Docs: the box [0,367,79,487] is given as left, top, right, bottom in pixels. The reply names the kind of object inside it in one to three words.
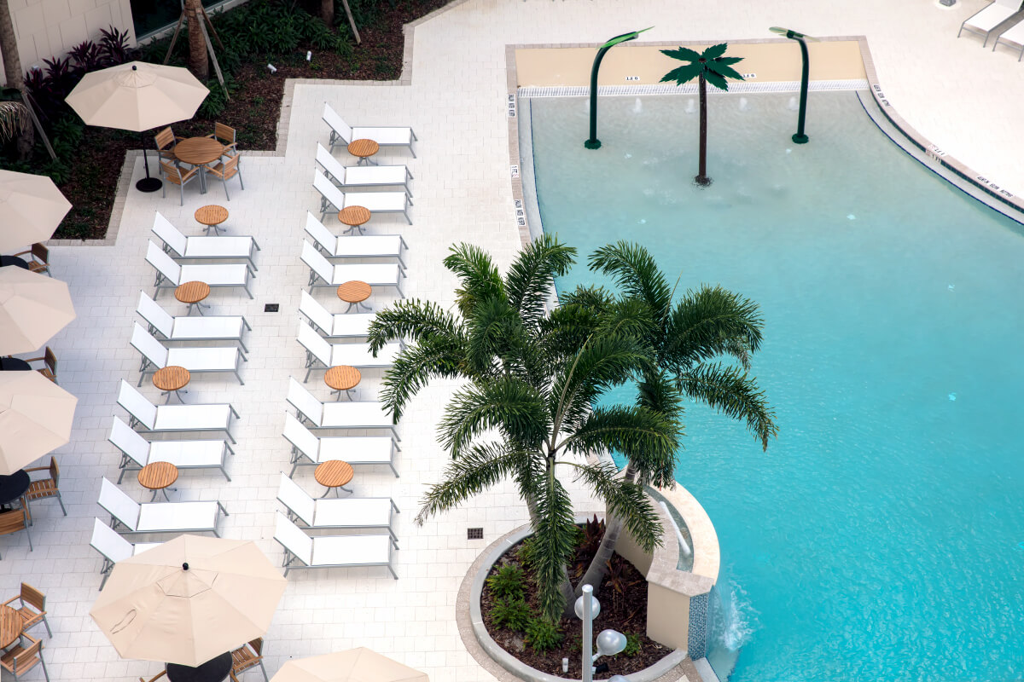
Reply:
umbrella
